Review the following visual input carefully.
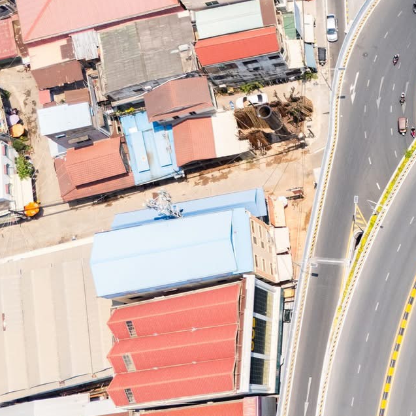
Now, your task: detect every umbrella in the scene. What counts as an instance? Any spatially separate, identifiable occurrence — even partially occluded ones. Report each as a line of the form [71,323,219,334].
[10,113,22,125]
[11,123,26,139]
[24,202,43,219]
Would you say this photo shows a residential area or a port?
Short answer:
residential area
